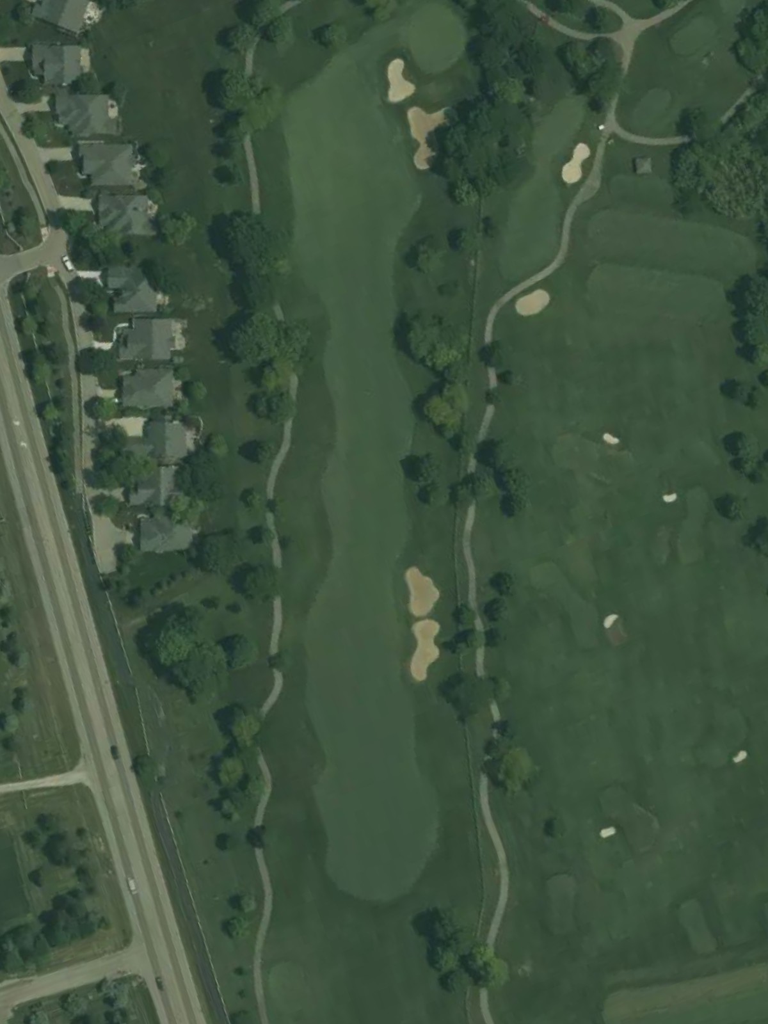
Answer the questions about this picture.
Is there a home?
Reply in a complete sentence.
Yes, there's a home here.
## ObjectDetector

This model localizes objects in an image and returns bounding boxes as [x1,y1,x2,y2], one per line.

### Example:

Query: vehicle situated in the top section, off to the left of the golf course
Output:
[62,254,75,272]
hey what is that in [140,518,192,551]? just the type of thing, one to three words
house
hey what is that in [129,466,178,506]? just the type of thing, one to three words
house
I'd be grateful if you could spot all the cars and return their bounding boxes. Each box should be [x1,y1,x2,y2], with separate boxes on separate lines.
[62,254,75,272]
[127,877,136,893]
[110,744,119,760]
[156,976,164,991]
